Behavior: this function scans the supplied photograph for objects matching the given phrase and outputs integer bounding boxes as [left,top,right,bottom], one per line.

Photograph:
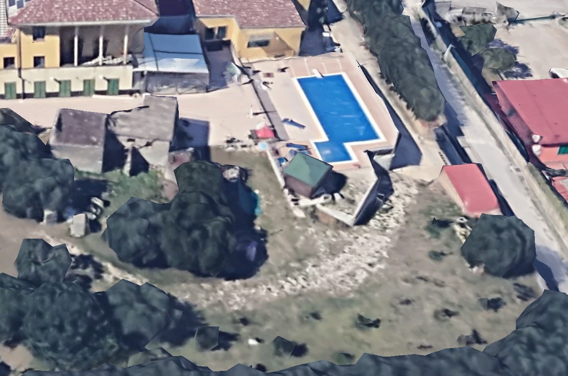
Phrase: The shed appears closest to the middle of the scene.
[284,153,333,200]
